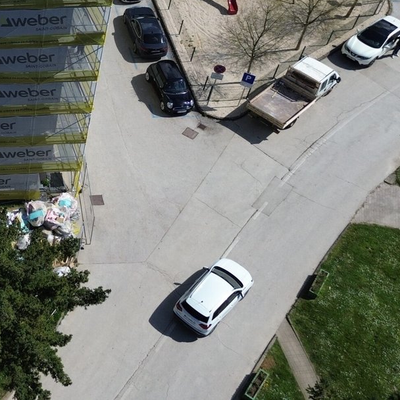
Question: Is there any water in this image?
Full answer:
No, the scene doesn't show any water.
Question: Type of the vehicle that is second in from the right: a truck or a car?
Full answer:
The vehicle that is second in from the right appears to be a truck.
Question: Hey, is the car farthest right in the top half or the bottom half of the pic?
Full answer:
The car farthest right is in the top half of the image.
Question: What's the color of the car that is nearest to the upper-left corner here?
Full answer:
From above, the car that is nearest to the upper-left corner appears black.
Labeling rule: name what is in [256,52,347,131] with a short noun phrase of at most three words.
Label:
truck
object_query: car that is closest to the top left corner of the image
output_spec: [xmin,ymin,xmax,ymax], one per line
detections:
[124,3,171,57]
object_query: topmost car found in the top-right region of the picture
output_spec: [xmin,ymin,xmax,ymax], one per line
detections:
[347,13,400,67]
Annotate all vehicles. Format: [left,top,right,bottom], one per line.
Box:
[146,57,194,111]
[256,52,347,131]
[347,13,400,67]
[174,252,259,336]
[124,3,171,57]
